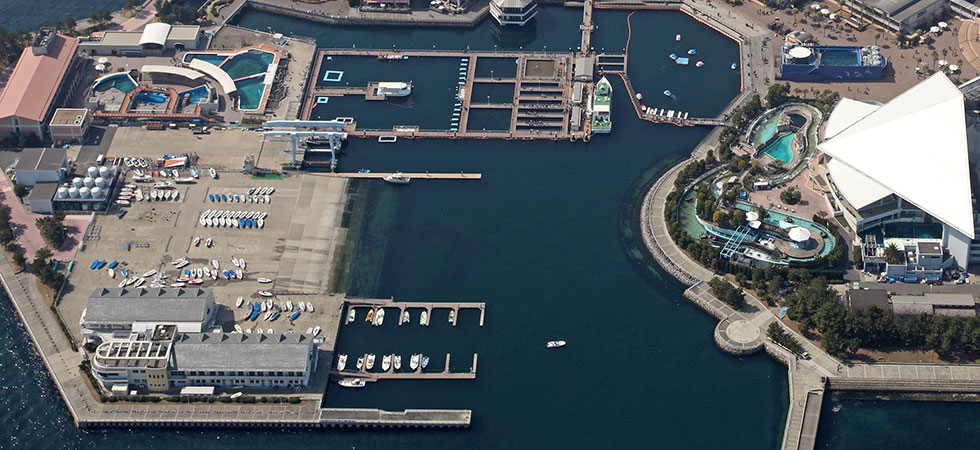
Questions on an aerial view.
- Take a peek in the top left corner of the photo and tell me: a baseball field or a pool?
pool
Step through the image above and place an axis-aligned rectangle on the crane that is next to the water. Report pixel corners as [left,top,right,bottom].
[262,118,350,171]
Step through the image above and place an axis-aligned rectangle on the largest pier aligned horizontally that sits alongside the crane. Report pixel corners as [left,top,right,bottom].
[303,48,583,140]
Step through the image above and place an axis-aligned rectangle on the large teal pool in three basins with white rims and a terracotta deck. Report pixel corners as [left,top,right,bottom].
[182,44,284,119]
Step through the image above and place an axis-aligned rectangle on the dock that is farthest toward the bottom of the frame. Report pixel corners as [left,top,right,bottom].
[322,408,471,432]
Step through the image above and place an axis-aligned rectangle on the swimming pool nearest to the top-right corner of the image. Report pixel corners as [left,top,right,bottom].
[821,49,858,66]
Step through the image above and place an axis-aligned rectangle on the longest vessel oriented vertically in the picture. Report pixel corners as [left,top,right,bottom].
[593,77,612,137]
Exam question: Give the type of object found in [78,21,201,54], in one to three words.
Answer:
building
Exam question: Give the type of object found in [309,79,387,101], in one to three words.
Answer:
pier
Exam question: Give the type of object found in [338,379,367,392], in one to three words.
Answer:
boat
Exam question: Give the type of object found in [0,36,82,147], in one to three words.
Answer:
building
